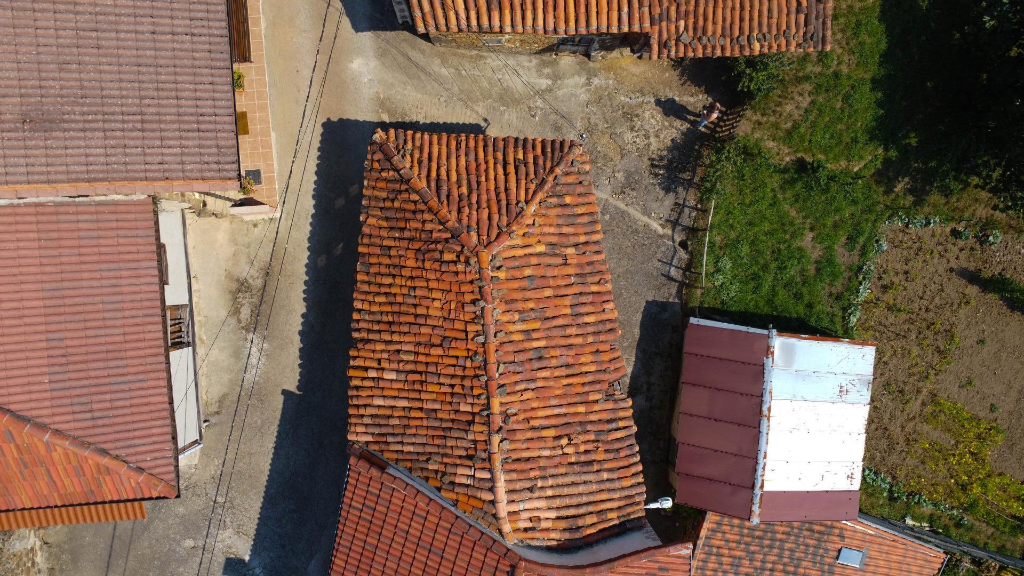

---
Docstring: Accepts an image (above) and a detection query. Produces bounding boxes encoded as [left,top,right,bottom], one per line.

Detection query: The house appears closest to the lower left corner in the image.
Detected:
[0,197,211,532]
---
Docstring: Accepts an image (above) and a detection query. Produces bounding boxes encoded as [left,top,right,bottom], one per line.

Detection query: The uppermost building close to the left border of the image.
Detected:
[0,0,245,201]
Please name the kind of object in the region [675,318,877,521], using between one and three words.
shed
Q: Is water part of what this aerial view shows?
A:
No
